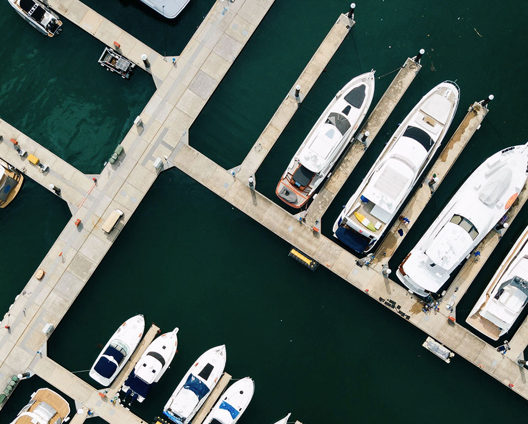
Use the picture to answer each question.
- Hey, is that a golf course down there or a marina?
marina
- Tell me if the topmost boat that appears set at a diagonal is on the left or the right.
left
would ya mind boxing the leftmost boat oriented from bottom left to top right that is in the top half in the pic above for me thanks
[278,66,378,206]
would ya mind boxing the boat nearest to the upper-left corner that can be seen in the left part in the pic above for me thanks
[7,0,64,40]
